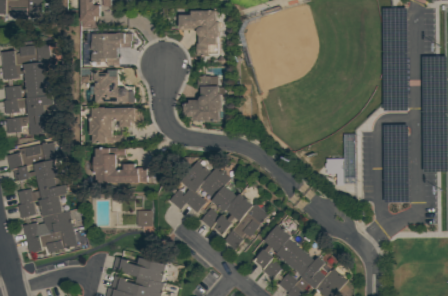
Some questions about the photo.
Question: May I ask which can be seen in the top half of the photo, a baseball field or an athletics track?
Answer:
baseball field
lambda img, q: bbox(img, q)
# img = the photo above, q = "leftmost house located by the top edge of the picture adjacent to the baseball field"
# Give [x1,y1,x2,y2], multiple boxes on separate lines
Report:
[178,10,220,55]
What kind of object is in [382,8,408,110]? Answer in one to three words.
solar array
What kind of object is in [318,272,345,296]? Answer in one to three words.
house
